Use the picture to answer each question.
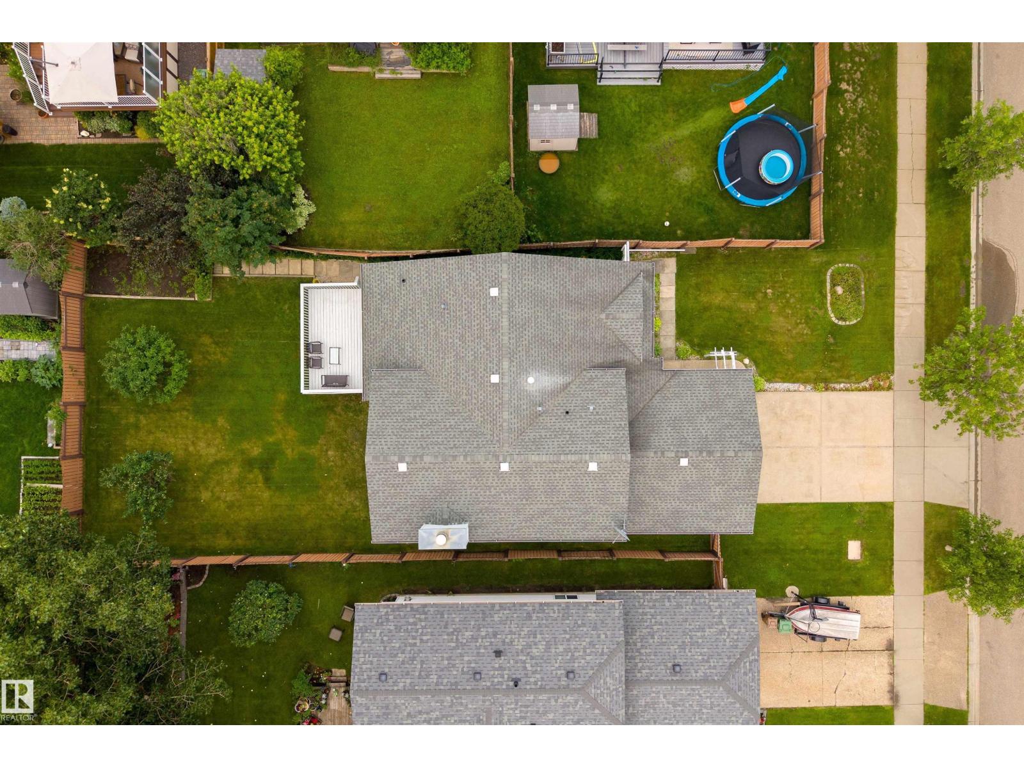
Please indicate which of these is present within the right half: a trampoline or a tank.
trampoline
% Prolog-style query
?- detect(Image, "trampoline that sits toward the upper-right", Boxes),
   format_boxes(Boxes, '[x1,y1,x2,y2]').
[714,102,819,210]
